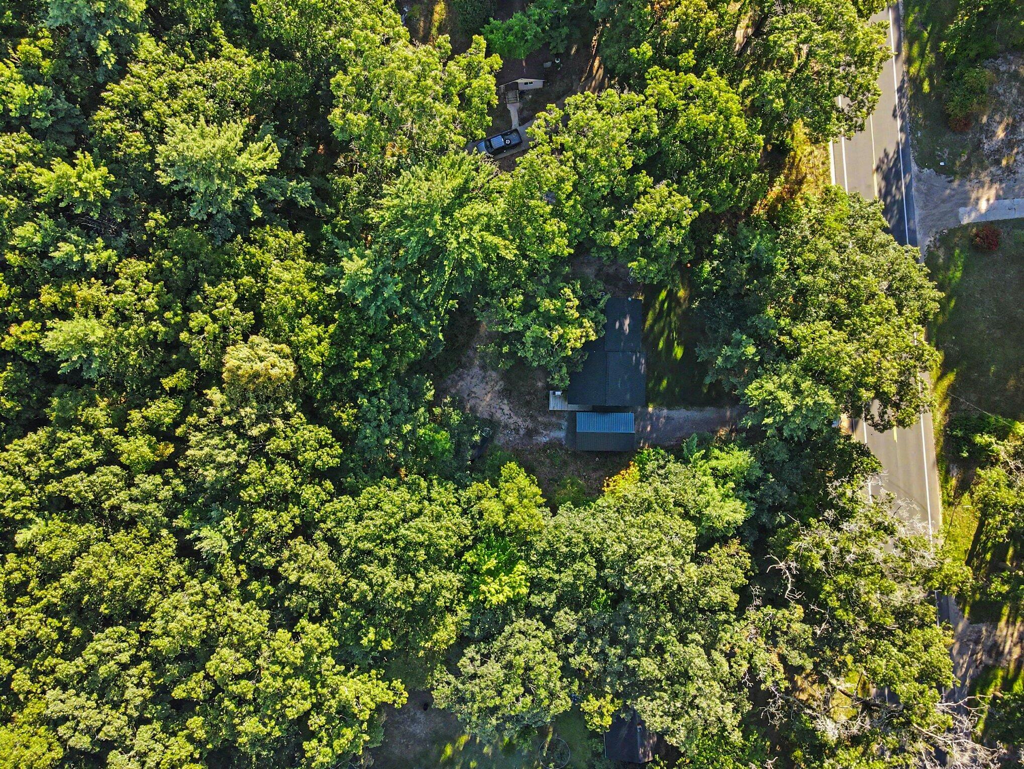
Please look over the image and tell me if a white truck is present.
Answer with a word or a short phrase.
No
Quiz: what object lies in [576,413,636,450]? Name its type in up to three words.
shed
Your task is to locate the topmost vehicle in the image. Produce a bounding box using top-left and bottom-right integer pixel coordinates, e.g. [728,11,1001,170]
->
[473,129,525,160]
